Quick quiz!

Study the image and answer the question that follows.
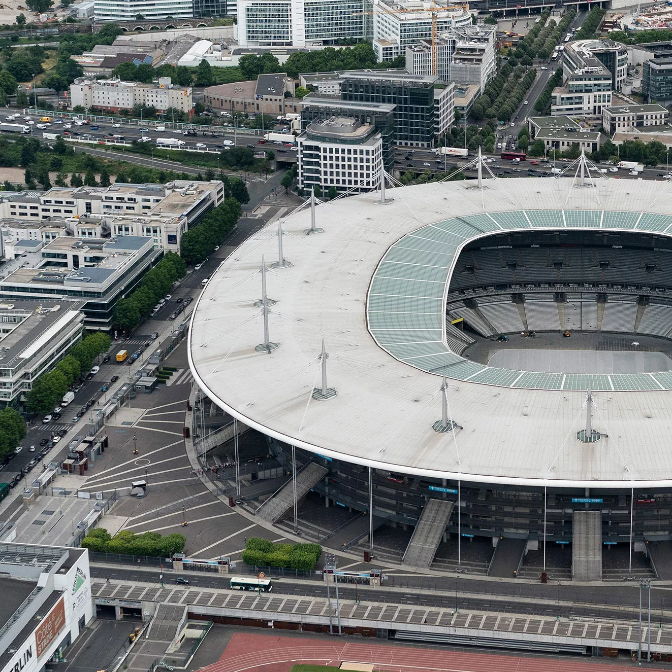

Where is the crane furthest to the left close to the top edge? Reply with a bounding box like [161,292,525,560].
[350,0,472,76]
